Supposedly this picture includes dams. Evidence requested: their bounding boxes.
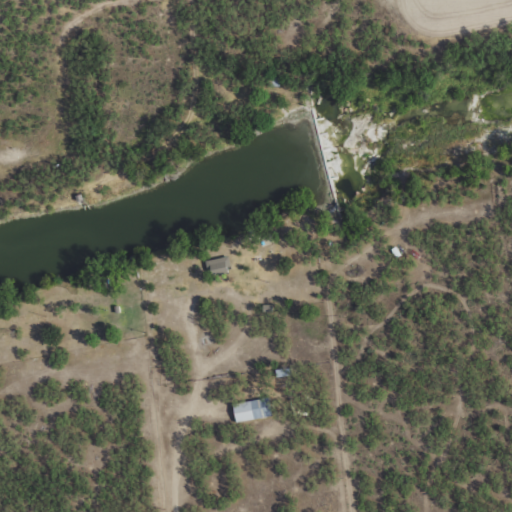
[310,92,342,214]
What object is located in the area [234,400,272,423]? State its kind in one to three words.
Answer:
barn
